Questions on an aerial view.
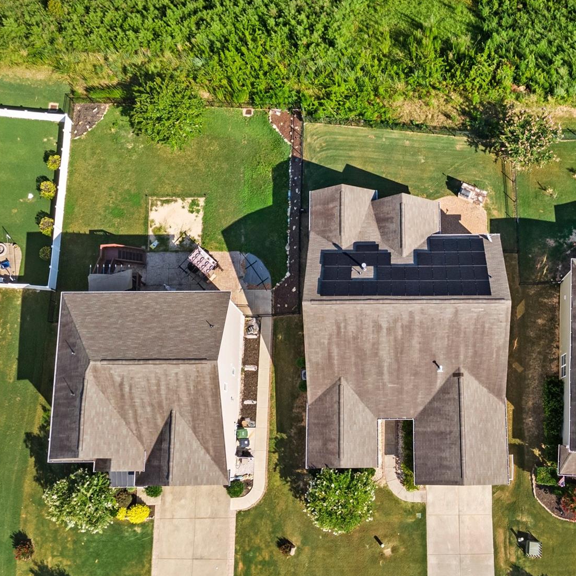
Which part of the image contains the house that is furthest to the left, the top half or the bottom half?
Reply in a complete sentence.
It is in the bottom half that the house that is furthest to the left appears.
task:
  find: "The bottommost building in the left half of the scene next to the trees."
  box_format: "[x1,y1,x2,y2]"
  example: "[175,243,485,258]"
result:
[47,291,246,489]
